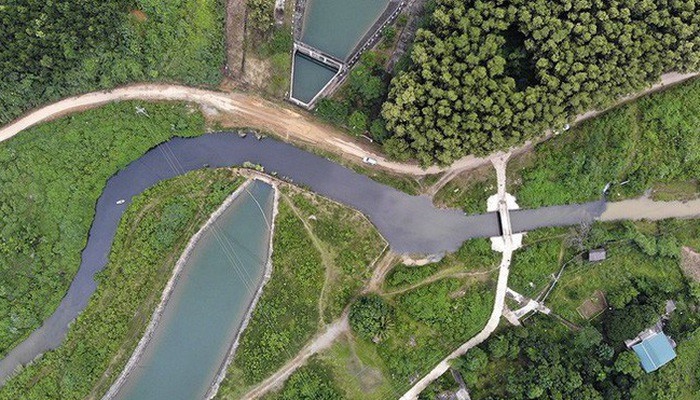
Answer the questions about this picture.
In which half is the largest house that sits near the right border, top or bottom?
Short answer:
bottom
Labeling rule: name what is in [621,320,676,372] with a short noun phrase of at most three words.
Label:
house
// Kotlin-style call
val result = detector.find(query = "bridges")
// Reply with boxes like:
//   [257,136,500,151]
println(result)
[485,191,522,255]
